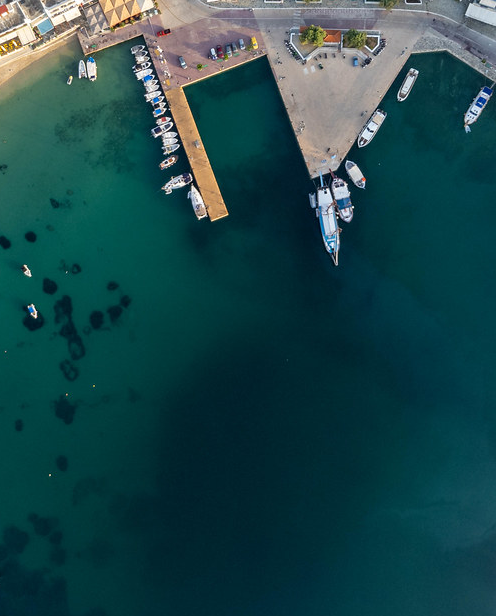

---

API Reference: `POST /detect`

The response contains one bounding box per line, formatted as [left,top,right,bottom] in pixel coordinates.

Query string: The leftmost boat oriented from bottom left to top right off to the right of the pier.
[358,109,389,146]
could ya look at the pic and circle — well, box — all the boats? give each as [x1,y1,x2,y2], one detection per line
[161,132,177,139]
[28,302,36,318]
[161,138,178,145]
[144,92,161,101]
[79,59,86,80]
[144,86,159,93]
[358,109,389,146]
[133,64,150,72]
[134,70,152,80]
[310,193,316,210]
[87,57,97,82]
[346,160,365,189]
[161,145,179,155]
[163,170,194,189]
[397,68,419,102]
[21,264,30,277]
[152,103,166,110]
[141,75,154,83]
[134,57,150,64]
[152,109,166,117]
[155,118,171,125]
[329,168,352,222]
[130,46,145,55]
[134,51,148,59]
[159,157,177,169]
[151,124,172,139]
[192,184,209,221]
[143,80,158,88]
[466,79,494,125]
[150,97,164,104]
